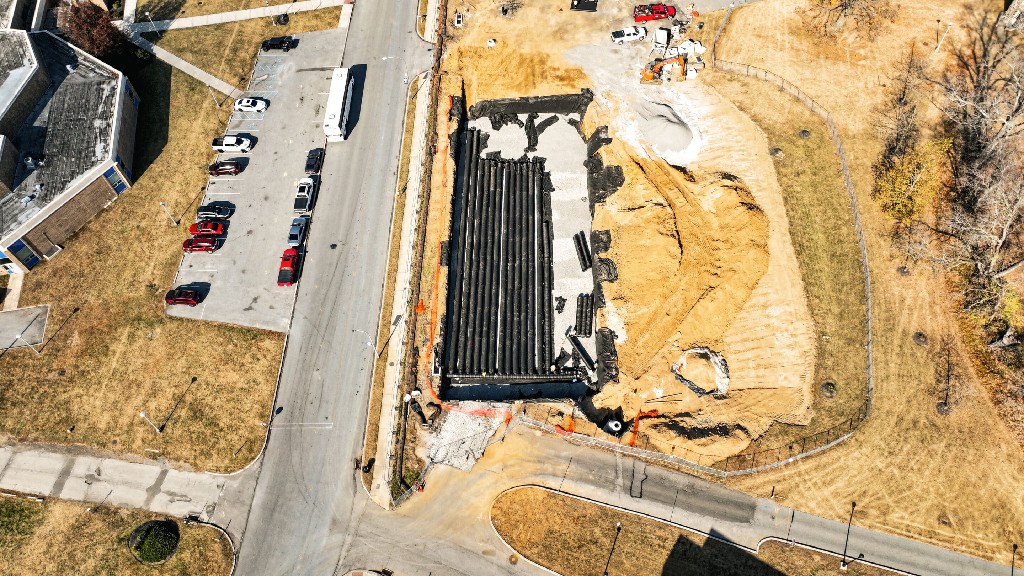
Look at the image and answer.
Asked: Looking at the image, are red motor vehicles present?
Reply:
Yes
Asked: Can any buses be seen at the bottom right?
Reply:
No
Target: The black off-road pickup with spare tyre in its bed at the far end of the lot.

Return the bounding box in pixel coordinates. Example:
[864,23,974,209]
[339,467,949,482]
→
[258,36,297,53]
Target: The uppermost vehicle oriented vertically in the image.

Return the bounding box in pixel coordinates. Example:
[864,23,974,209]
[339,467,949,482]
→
[325,69,355,151]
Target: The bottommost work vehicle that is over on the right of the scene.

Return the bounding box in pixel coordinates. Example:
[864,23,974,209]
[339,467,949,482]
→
[639,52,688,84]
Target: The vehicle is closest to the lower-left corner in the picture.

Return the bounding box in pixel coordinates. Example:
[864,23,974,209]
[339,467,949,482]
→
[162,289,205,308]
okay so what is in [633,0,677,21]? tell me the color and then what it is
red truck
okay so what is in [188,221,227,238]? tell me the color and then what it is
red car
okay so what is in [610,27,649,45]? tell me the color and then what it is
white vehicle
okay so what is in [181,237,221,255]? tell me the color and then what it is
red car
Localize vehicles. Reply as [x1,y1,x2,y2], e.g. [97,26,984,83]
[258,36,297,53]
[293,178,315,213]
[325,69,355,151]
[610,27,649,45]
[304,149,324,176]
[207,161,244,178]
[287,217,309,247]
[210,136,254,154]
[162,289,205,308]
[639,52,688,84]
[188,221,227,238]
[194,204,233,222]
[633,0,677,21]
[276,247,300,287]
[233,98,269,113]
[181,237,221,255]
